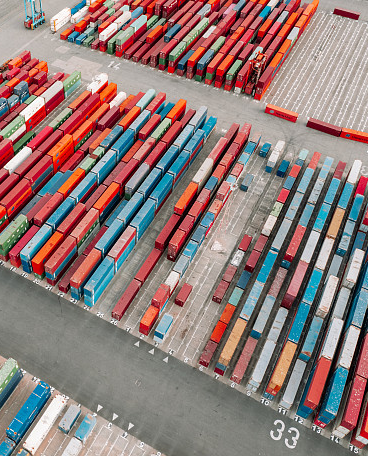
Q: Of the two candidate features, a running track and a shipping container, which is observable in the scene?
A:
shipping container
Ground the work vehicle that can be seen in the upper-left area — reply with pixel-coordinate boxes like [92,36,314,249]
[23,0,47,30]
